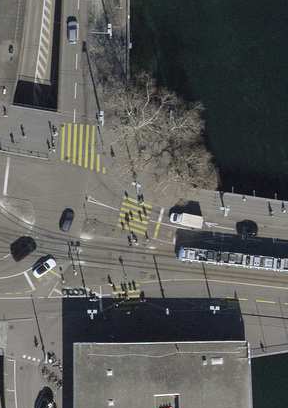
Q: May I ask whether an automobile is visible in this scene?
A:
Yes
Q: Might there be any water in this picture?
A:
Yes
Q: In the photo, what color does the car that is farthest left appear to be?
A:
black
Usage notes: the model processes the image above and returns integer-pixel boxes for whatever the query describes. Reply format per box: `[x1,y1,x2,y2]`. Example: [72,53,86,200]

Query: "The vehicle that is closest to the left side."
[14,244,38,264]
